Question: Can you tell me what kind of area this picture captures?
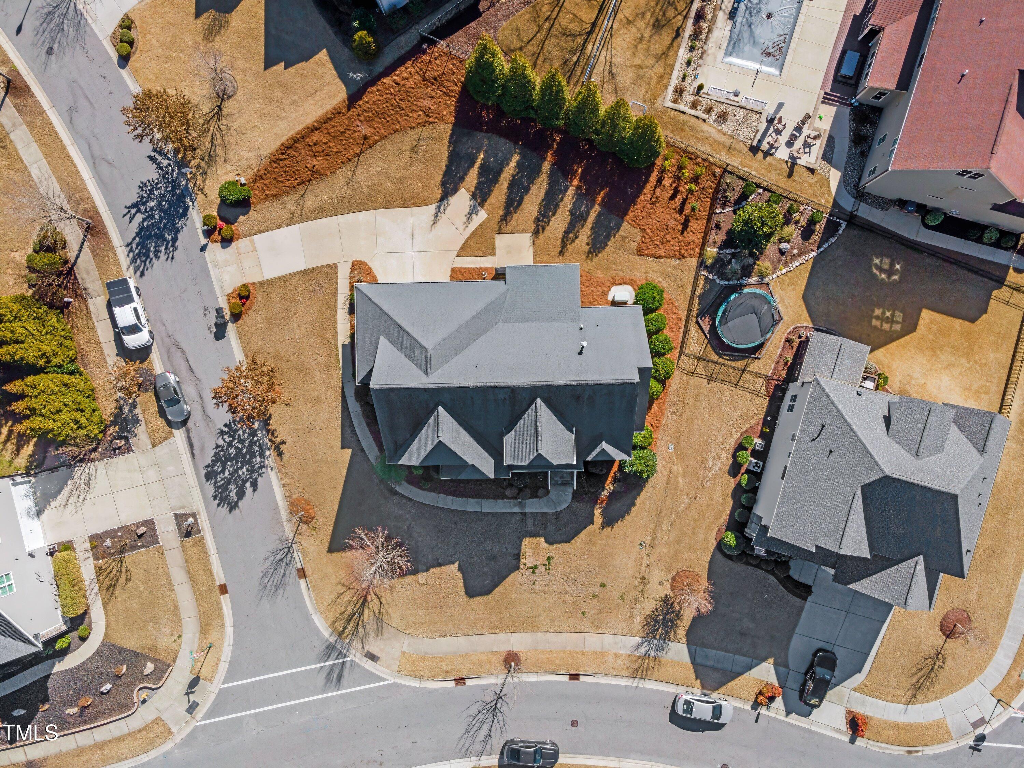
residential area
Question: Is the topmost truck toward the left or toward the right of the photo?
left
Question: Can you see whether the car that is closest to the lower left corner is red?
No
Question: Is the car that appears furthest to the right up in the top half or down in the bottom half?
bottom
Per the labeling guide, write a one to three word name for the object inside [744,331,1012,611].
house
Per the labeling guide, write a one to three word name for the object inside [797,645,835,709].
car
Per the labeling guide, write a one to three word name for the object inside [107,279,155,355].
truck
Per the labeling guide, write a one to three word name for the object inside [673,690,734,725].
car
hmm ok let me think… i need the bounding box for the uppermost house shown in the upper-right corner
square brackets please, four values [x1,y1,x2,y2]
[853,0,1024,220]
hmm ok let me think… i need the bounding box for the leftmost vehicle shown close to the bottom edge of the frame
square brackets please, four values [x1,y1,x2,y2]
[503,735,562,768]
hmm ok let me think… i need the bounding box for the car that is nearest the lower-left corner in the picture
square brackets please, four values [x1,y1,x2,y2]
[152,369,191,425]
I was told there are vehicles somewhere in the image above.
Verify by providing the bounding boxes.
[107,279,155,355]
[673,690,734,725]
[503,735,562,768]
[797,645,835,709]
[152,369,191,425]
